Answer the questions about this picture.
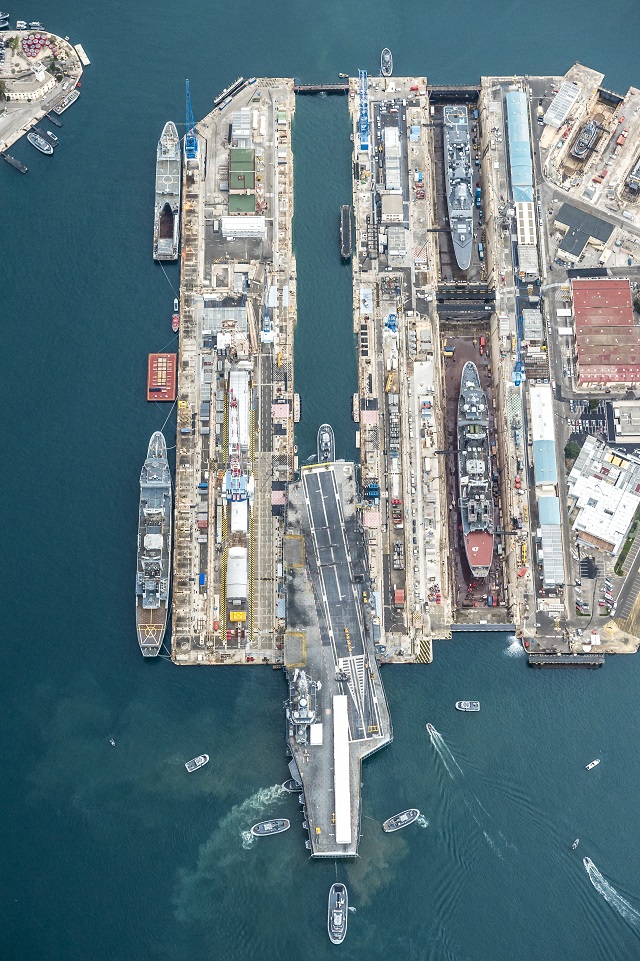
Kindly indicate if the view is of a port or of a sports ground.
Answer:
port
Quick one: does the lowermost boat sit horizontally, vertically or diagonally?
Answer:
vertically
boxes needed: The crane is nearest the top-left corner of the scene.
[182,80,200,165]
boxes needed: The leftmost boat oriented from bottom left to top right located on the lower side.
[183,754,210,775]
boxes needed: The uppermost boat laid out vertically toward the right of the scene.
[380,48,392,77]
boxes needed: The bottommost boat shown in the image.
[327,883,349,943]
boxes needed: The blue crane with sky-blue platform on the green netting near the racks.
[510,299,530,395]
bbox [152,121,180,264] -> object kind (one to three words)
ship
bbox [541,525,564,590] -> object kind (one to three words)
building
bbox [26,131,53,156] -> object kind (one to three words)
boat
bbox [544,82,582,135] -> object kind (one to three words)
building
